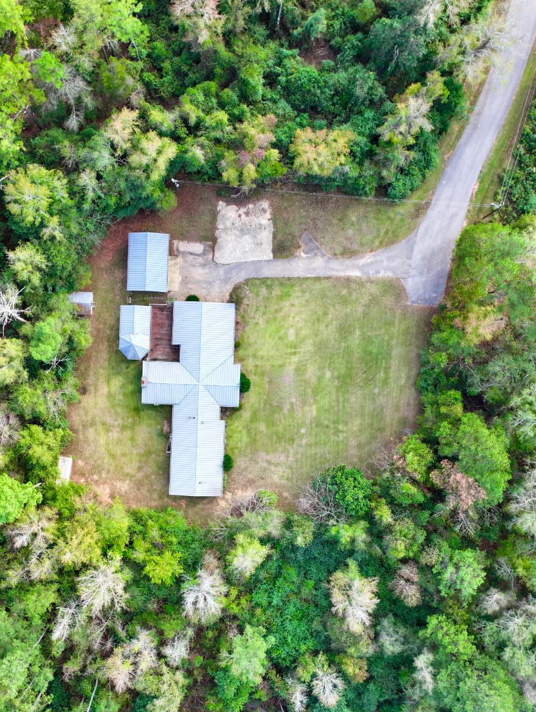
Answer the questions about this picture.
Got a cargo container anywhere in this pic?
No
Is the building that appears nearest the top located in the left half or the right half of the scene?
left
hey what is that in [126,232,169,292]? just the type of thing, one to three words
building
